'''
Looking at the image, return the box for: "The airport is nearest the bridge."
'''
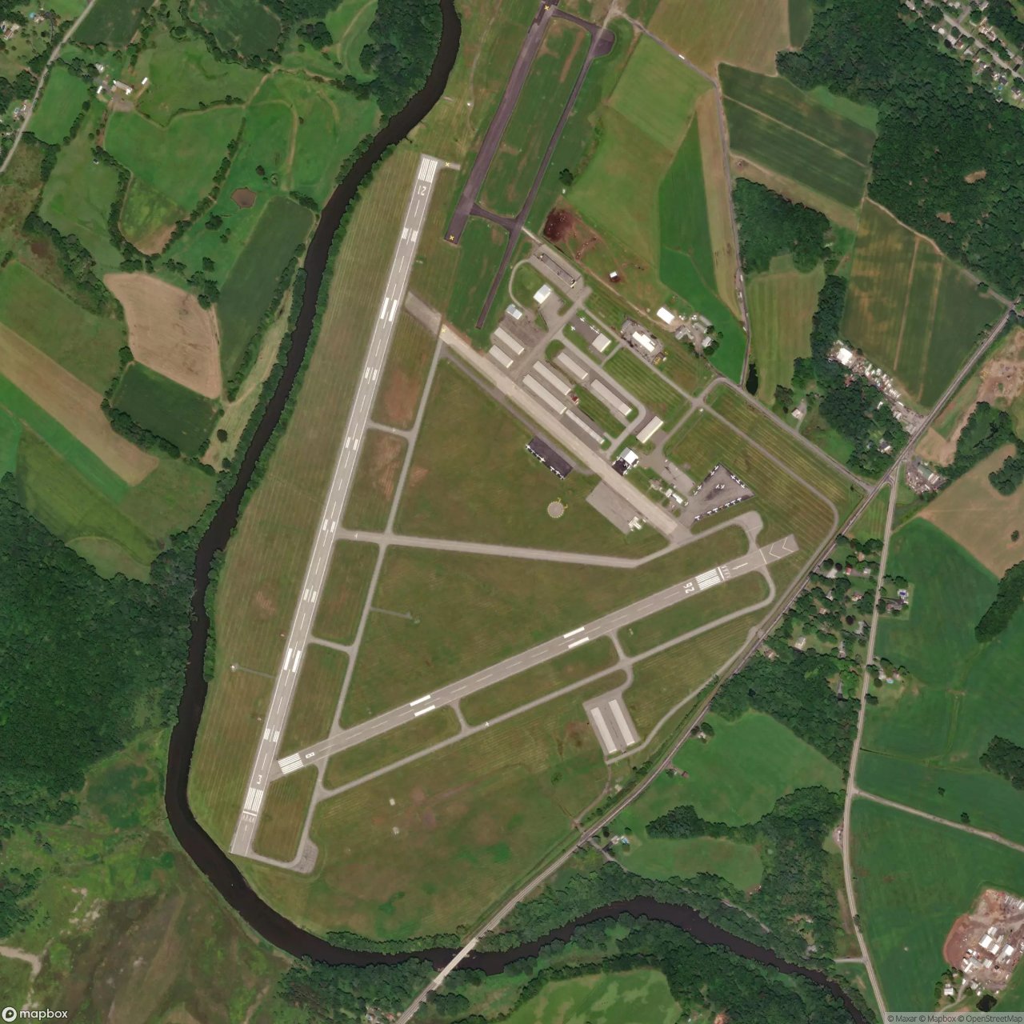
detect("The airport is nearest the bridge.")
[231,0,798,873]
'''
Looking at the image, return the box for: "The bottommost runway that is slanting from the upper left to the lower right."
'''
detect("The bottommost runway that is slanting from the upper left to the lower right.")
[439,323,677,534]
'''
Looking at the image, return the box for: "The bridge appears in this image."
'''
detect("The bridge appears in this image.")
[426,933,483,993]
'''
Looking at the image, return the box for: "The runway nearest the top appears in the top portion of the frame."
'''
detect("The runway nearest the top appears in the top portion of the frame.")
[444,0,556,244]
